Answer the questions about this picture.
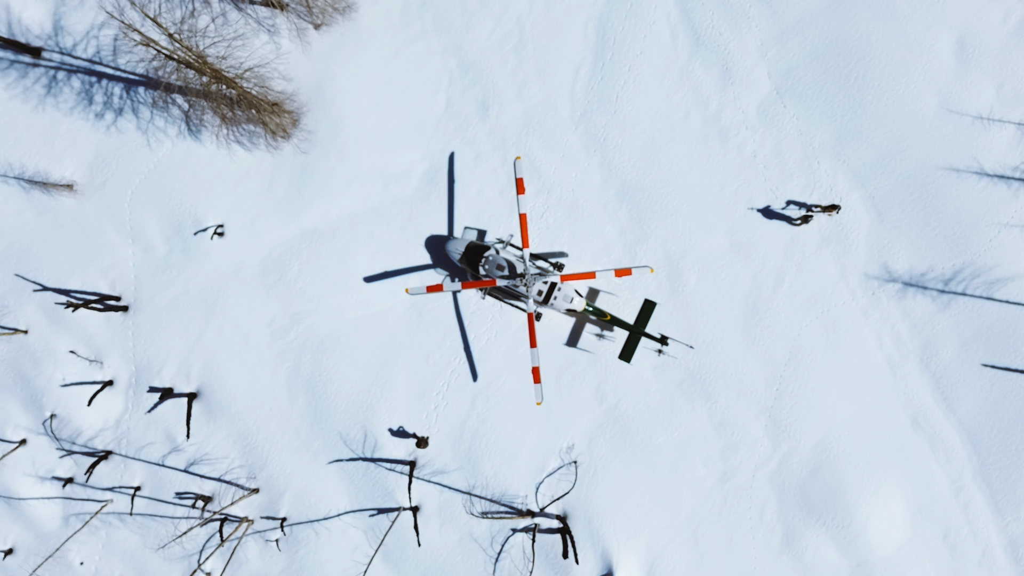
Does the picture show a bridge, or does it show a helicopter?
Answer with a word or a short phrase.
helicopter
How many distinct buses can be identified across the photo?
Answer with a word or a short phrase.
0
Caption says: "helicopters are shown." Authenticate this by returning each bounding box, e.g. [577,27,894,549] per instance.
[406,158,694,403]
